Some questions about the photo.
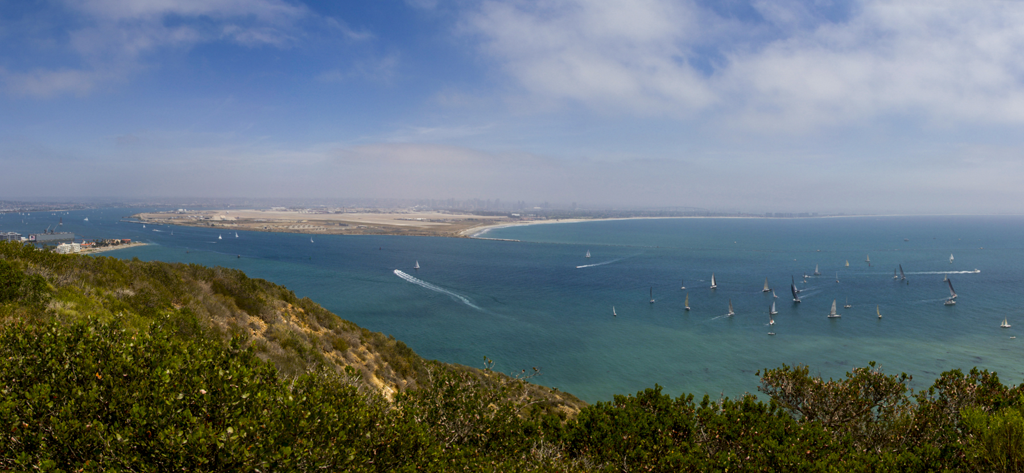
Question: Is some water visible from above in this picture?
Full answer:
Yes, there's water in this view.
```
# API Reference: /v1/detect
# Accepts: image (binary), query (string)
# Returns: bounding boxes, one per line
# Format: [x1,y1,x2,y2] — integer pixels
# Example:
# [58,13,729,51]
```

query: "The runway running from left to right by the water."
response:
[142,209,506,224]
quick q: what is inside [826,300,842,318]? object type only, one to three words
boat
